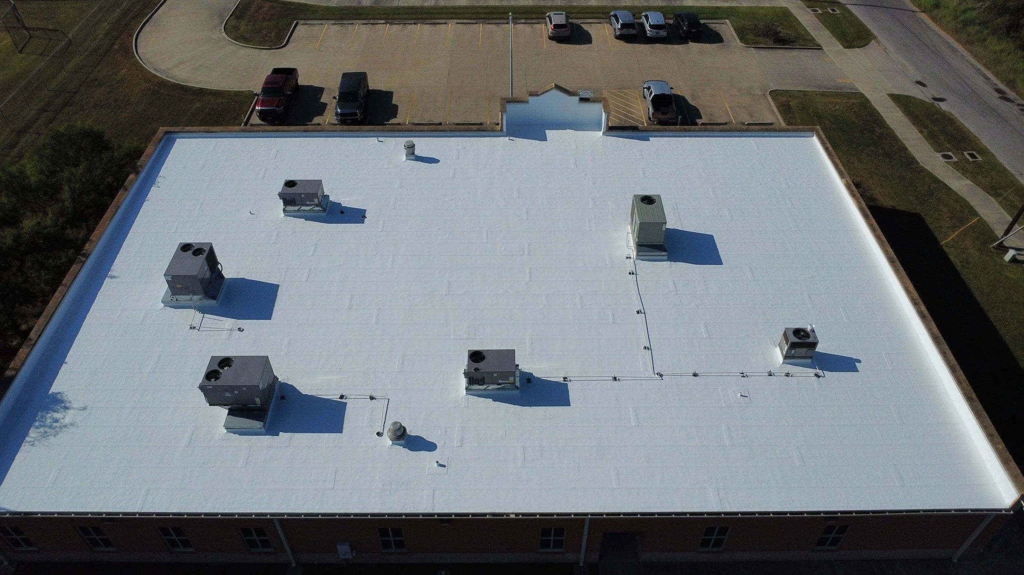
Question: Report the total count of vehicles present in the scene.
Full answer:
The count of vehicles comes to 7.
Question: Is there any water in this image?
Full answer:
No, there is no water in the image.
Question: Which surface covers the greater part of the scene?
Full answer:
Most of the picture is covered by buildings.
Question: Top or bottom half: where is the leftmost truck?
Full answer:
You can find the leftmost truck in the top half.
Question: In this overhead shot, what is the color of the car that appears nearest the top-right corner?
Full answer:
The car that appears nearest the top-right corner looks black in the image.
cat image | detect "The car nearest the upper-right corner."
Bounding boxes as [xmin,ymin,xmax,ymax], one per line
[671,7,705,35]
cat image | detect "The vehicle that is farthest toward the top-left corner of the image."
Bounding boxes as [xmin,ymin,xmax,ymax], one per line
[253,65,301,118]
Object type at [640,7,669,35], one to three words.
car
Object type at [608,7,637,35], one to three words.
car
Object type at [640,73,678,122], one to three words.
truck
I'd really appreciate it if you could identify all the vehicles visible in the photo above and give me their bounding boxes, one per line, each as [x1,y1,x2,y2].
[545,8,571,36]
[330,72,371,124]
[608,7,637,35]
[640,7,669,35]
[671,7,705,35]
[640,73,678,122]
[253,65,301,118]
